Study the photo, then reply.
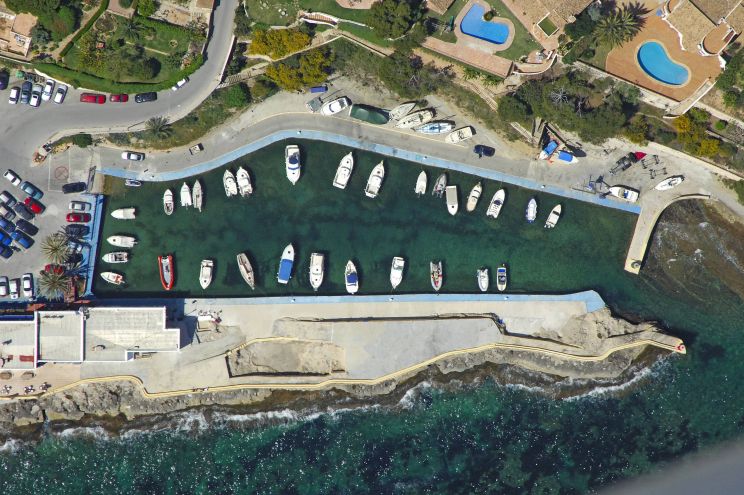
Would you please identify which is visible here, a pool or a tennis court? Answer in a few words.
pool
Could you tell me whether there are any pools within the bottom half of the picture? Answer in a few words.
No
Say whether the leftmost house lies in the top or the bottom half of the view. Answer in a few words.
top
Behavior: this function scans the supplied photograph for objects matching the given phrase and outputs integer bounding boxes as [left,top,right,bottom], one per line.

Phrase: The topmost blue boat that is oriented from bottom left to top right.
[541,138,559,160]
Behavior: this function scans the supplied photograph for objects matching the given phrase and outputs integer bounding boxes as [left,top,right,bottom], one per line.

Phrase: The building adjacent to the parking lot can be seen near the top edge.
[0,12,33,57]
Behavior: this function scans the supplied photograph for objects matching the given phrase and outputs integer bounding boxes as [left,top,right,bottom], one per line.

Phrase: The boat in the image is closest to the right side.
[655,174,684,188]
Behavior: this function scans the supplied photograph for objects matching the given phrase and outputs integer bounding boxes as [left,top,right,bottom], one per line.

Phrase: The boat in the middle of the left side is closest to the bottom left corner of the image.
[90,272,126,285]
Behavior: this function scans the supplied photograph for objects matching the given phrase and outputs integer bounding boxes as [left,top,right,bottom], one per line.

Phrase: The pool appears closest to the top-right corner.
[635,40,690,87]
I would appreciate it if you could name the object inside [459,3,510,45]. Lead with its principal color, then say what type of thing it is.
blue swimming pool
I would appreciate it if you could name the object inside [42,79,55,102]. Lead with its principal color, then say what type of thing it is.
white vehicle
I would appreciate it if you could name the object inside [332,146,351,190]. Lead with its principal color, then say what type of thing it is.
white boat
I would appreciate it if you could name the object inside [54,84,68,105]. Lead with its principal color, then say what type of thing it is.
white vehicle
